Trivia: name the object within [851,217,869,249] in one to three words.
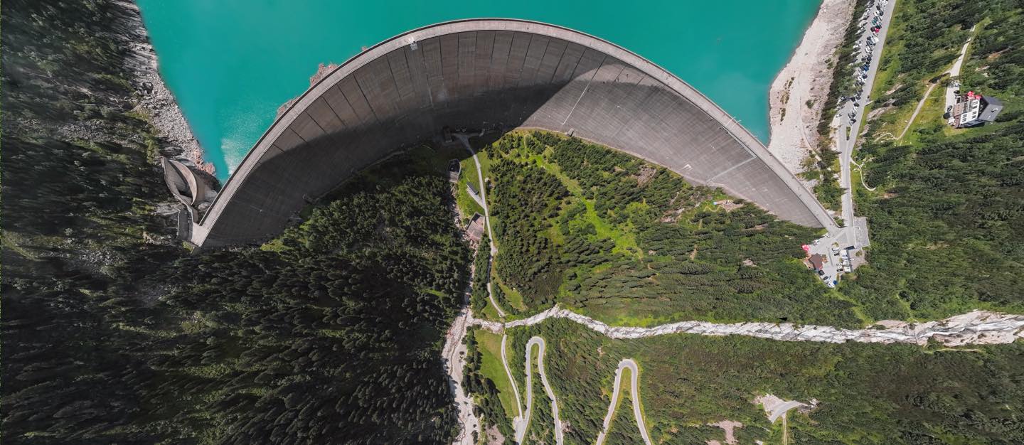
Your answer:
building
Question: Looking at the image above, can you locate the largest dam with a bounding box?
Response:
[185,17,832,247]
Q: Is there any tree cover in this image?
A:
Yes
